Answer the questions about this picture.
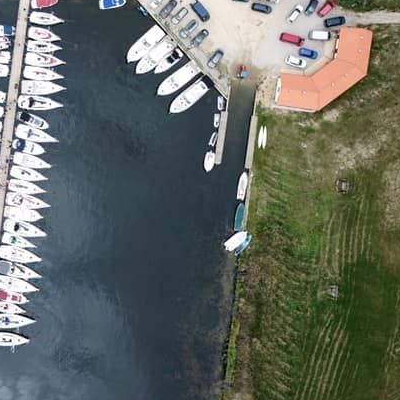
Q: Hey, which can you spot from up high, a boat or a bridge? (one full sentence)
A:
Visible in the photo is a boat.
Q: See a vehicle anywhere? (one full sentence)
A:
Yes, the picture does show a vehicle.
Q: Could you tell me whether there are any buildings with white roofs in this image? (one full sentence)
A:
No, no building with a white roof is visible in the scene.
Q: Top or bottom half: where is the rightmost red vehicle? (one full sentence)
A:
The rightmost red vehicle is in the top half of the image.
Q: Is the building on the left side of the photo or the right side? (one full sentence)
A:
The building appears in the right half of the scene.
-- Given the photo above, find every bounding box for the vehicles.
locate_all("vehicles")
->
[283,55,305,68]
[177,19,199,40]
[191,0,211,22]
[157,0,176,20]
[297,47,318,60]
[149,0,163,9]
[303,0,317,17]
[170,7,188,25]
[278,32,304,48]
[235,60,250,78]
[307,31,330,40]
[322,16,345,28]
[315,0,337,20]
[285,5,303,24]
[205,49,225,69]
[189,28,209,48]
[250,2,272,14]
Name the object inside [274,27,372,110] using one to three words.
building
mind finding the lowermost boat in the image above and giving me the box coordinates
[0,331,30,349]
